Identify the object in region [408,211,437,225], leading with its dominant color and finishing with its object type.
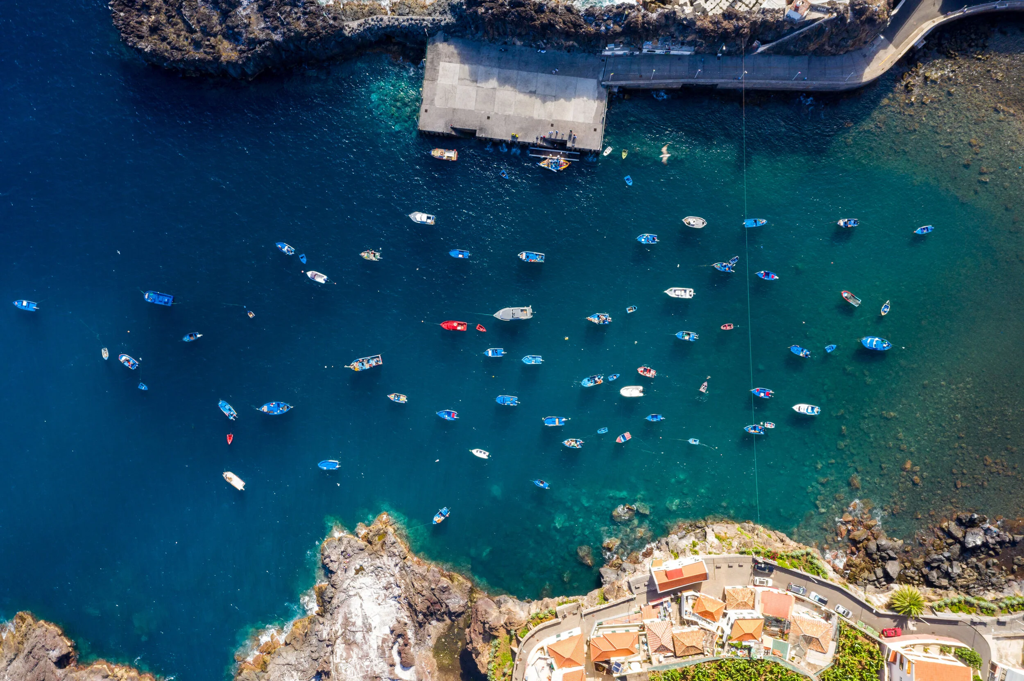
white boat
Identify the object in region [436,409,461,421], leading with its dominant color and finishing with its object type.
blue boat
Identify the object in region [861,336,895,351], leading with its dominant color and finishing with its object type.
blue boat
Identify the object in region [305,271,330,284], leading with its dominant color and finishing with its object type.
white boat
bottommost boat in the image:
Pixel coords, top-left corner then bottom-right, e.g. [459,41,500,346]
[433,508,452,525]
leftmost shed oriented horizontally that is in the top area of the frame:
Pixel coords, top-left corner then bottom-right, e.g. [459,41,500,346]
[601,45,640,59]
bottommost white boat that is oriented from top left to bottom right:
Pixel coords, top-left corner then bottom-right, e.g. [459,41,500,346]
[222,472,247,492]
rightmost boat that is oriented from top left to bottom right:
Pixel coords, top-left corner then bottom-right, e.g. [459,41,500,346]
[842,290,863,307]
